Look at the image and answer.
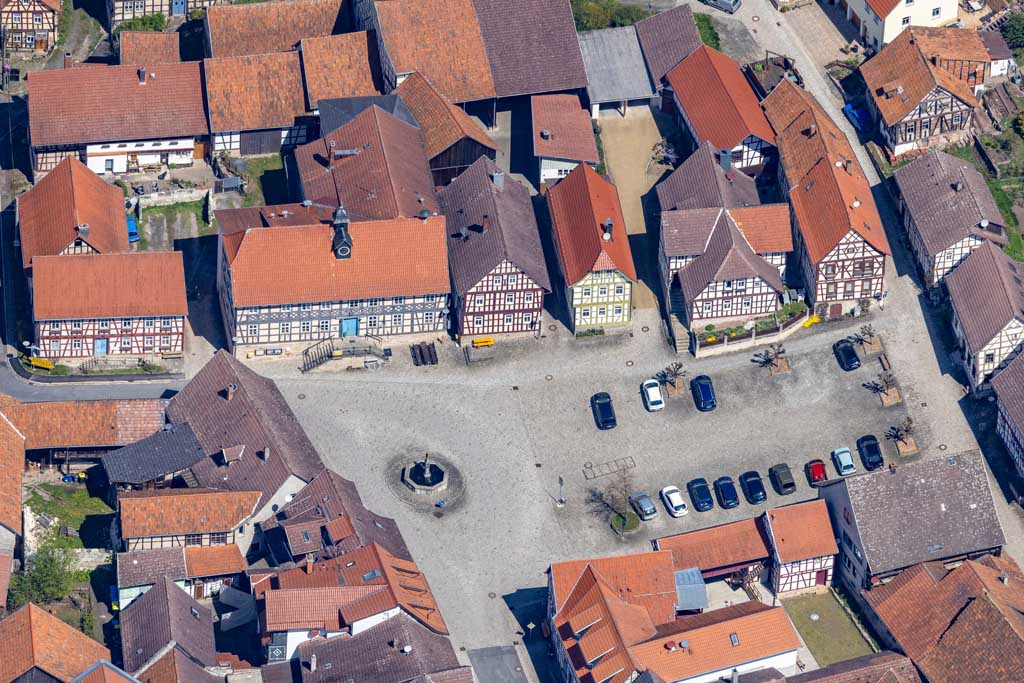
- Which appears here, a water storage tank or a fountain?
fountain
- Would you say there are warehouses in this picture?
Yes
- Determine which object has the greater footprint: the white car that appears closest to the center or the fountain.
the fountain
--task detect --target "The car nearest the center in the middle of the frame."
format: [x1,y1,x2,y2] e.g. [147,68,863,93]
[592,390,615,426]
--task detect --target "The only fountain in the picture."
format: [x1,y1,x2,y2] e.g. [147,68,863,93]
[387,454,465,514]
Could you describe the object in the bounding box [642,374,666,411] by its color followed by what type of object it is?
white car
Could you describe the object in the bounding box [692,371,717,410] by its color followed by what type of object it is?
blue car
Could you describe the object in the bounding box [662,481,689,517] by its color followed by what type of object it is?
white car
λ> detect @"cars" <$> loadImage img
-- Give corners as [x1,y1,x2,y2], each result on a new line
[769,457,798,495]
[642,374,666,411]
[662,481,689,517]
[857,430,886,469]
[739,465,768,504]
[628,486,659,522]
[692,371,717,410]
[688,474,715,511]
[833,334,862,369]
[804,452,831,488]
[831,439,859,477]
[592,390,615,426]
[714,471,740,508]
